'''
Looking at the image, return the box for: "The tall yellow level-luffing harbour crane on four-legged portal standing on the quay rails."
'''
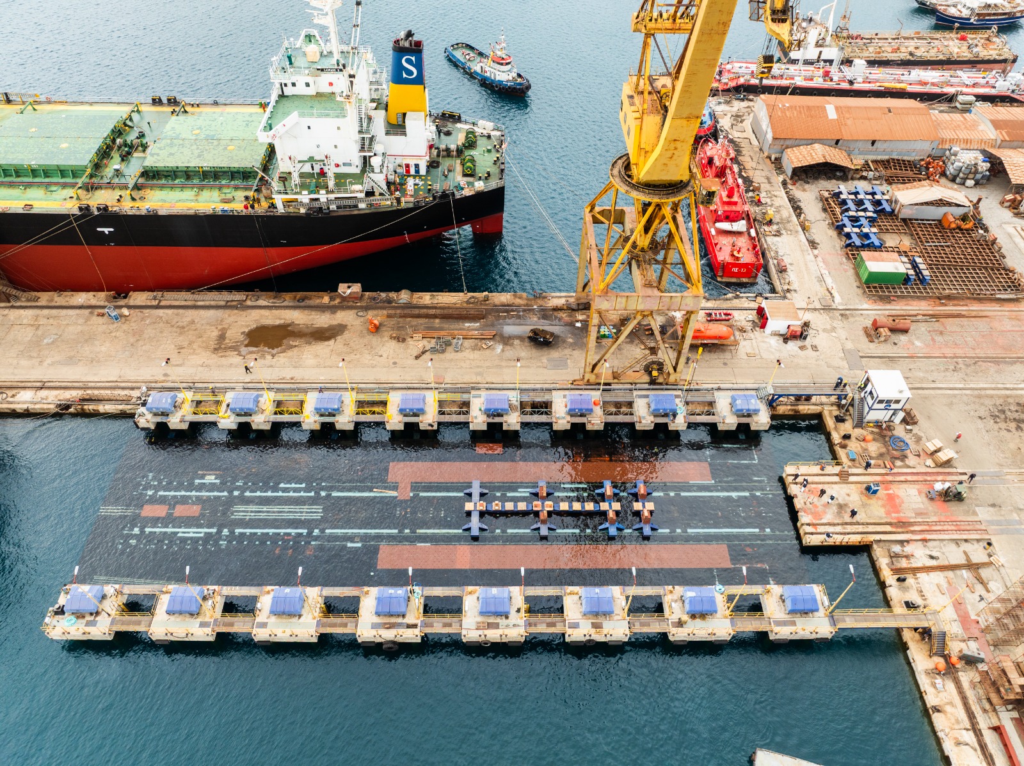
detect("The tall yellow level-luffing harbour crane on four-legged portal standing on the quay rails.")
[565,0,810,385]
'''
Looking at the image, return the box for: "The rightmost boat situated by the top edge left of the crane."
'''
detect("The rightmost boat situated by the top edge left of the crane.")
[441,17,530,99]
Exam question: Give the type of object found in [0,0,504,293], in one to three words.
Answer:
ship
